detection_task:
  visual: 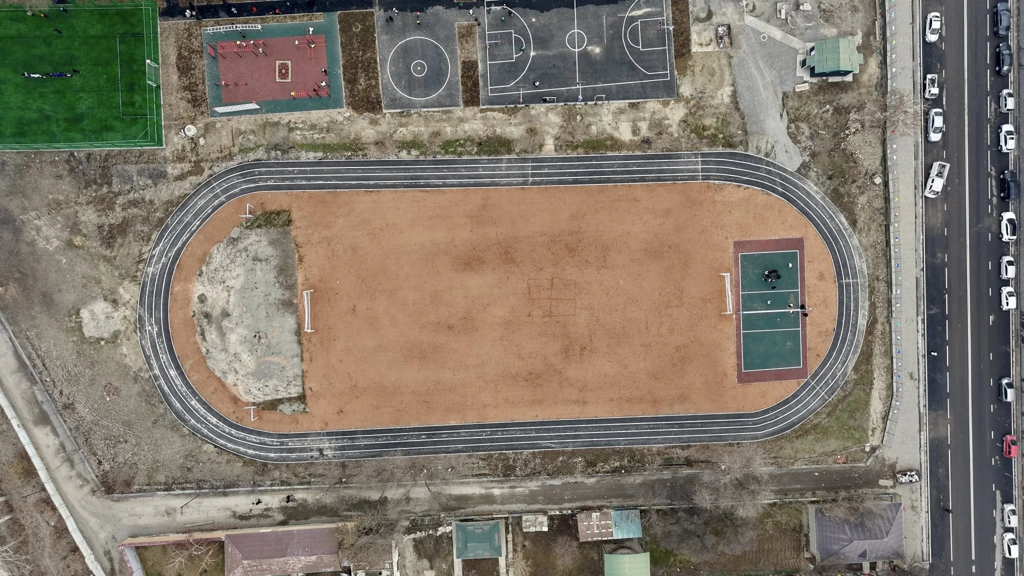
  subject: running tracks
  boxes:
[138,151,868,463]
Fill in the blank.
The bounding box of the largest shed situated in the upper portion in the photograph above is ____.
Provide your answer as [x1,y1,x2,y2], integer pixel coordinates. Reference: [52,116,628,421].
[800,38,863,77]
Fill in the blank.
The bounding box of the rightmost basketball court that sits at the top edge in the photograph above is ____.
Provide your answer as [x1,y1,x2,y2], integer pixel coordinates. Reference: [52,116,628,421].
[476,0,677,107]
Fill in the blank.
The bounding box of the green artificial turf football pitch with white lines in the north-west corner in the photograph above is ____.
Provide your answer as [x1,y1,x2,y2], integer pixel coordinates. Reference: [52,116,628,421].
[0,0,165,150]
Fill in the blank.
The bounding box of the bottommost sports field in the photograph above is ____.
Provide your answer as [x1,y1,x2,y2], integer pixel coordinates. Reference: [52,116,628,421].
[169,182,838,433]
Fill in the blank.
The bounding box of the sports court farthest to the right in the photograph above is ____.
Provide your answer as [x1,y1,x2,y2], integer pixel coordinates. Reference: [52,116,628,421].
[733,236,809,384]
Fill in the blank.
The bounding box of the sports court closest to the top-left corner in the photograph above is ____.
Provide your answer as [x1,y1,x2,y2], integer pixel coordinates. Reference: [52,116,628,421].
[201,12,345,119]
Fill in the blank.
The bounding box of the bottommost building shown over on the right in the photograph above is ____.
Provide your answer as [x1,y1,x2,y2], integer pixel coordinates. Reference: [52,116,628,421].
[601,546,650,576]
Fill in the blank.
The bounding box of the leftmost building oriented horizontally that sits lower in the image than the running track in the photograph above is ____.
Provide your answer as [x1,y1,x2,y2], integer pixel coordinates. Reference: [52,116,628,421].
[225,522,342,576]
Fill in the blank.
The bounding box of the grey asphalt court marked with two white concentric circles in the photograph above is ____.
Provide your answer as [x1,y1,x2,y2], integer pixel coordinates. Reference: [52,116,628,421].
[375,0,481,112]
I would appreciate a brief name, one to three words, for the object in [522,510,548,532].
shed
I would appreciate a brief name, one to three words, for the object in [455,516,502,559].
house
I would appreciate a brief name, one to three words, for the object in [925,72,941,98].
vehicle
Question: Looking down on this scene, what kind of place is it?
sports ground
